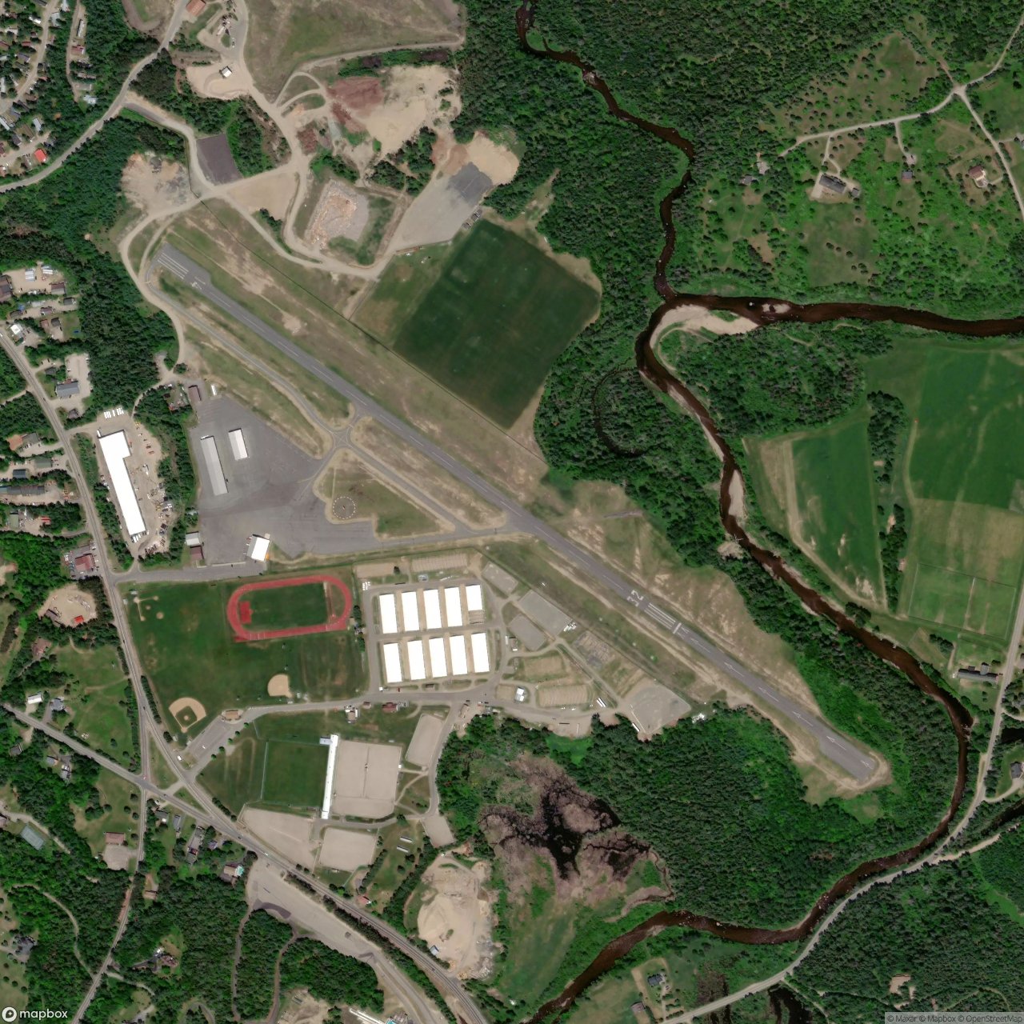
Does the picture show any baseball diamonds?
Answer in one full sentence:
Yes, a baseball diamond can be made out from above.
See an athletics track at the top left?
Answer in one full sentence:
No, there is no athletics track at the top left.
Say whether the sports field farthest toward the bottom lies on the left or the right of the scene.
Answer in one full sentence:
You can find the sports field farthest toward the bottom on the left side of the picture.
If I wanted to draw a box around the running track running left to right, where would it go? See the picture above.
[228,575,352,642]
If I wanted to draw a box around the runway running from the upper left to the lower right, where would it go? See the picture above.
[153,243,875,781]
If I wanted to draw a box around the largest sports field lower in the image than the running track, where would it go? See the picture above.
[262,743,330,803]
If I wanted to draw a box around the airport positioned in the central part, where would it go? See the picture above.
[113,243,875,781]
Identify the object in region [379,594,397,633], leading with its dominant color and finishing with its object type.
white tent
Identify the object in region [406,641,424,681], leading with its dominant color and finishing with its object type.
white tent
